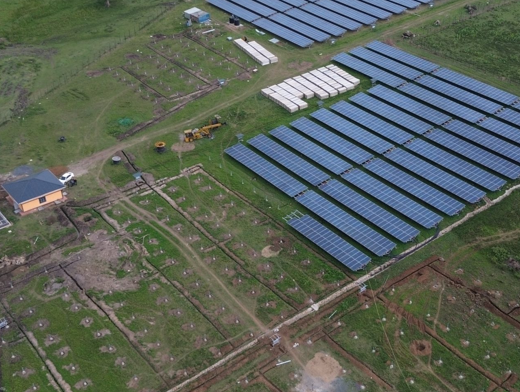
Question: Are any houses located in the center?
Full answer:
No, the scene shows no house in the center.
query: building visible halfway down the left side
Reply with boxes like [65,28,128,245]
[1,170,67,216]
